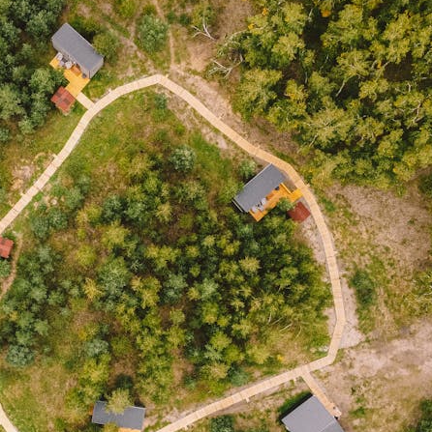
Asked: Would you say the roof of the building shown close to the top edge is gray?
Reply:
Yes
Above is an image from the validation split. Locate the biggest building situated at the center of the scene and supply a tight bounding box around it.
[231,163,286,214]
